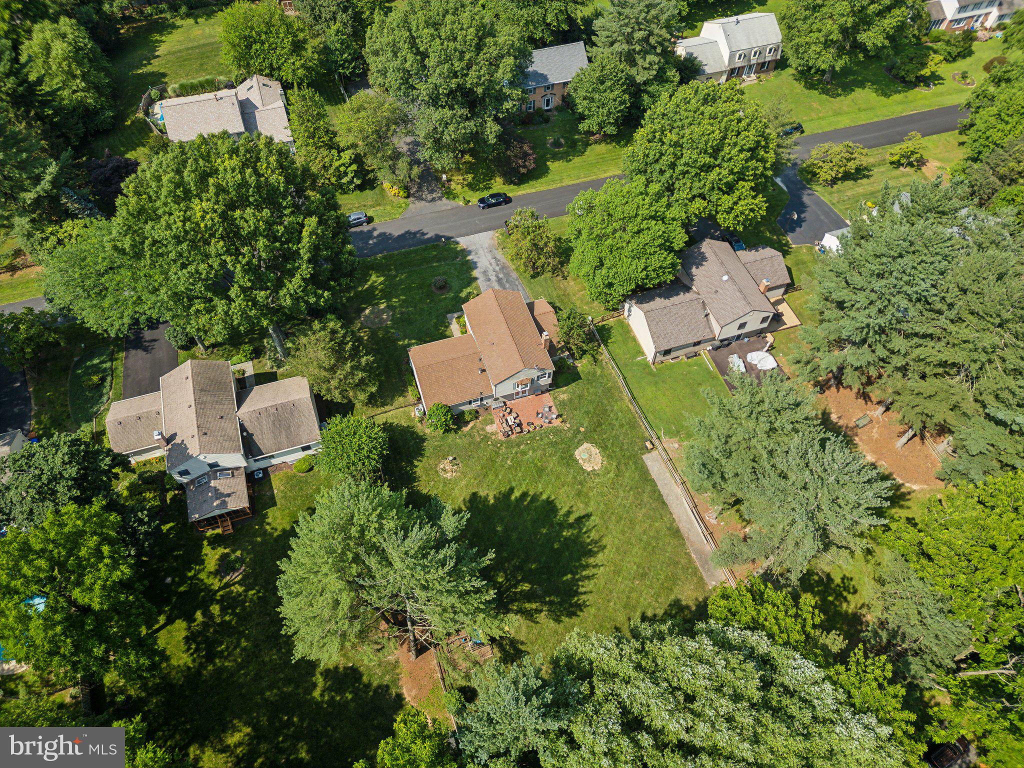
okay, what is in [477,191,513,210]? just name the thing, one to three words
car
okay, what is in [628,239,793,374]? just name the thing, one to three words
house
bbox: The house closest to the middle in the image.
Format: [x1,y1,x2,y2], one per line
[407,288,570,418]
